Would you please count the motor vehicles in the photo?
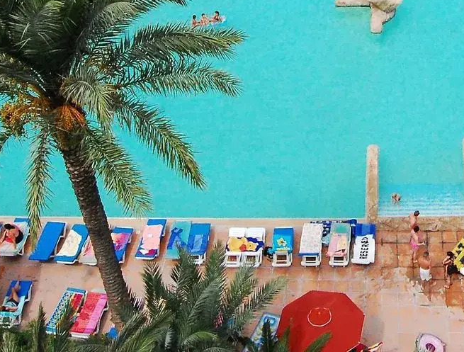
0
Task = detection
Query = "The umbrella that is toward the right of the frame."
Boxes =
[276,291,365,352]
